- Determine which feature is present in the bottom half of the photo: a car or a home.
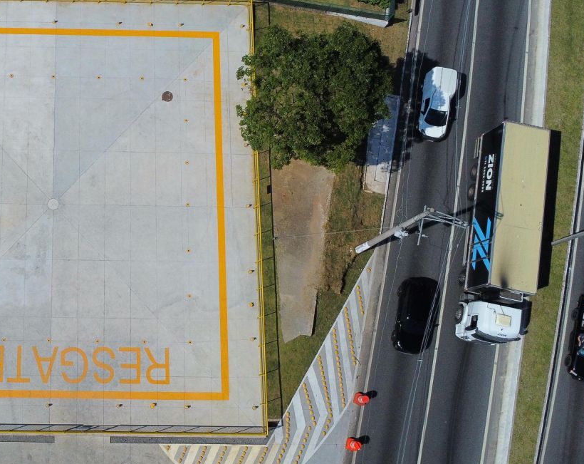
car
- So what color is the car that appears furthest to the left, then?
black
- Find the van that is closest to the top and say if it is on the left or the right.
right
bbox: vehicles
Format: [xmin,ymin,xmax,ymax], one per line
[416,62,467,145]
[452,121,551,353]
[390,275,439,355]
[563,289,584,381]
